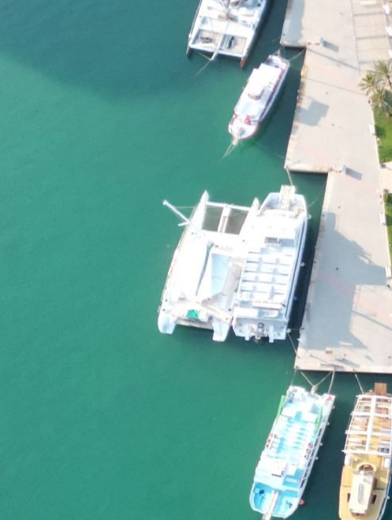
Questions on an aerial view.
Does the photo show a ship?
Yes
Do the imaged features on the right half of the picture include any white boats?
Yes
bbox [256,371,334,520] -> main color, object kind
white boat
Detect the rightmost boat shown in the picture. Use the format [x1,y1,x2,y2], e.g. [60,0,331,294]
[337,375,392,520]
